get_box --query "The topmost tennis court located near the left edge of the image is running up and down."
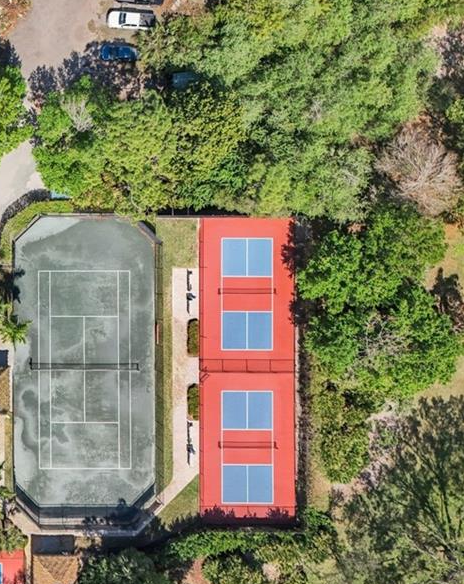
[14,216,155,522]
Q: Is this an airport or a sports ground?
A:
sports ground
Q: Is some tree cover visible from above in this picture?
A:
Yes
